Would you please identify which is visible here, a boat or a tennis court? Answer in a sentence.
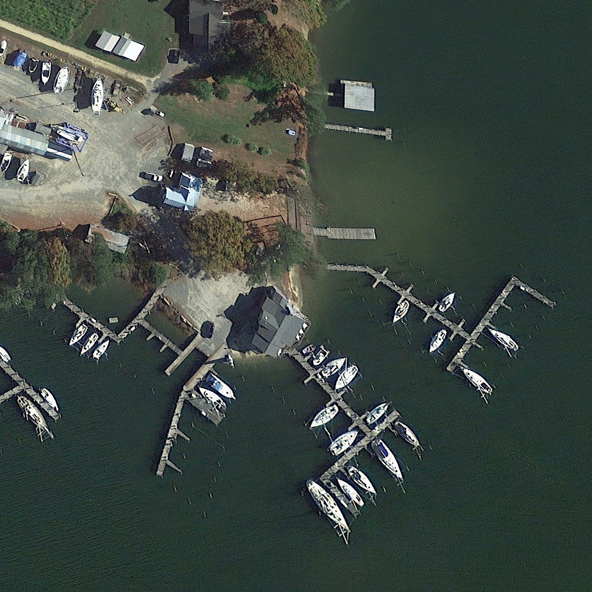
There is a boat in the scene.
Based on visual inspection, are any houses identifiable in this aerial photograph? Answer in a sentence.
Yes, there's a house here.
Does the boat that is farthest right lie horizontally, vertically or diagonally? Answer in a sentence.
The boat that is farthest right is oriented diagonally.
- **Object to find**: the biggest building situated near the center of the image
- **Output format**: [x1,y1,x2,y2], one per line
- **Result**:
[250,286,310,358]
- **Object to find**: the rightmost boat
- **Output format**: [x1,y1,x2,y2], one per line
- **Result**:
[489,329,520,360]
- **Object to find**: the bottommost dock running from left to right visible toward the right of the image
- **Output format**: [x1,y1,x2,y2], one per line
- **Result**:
[325,261,556,371]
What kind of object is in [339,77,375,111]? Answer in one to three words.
building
